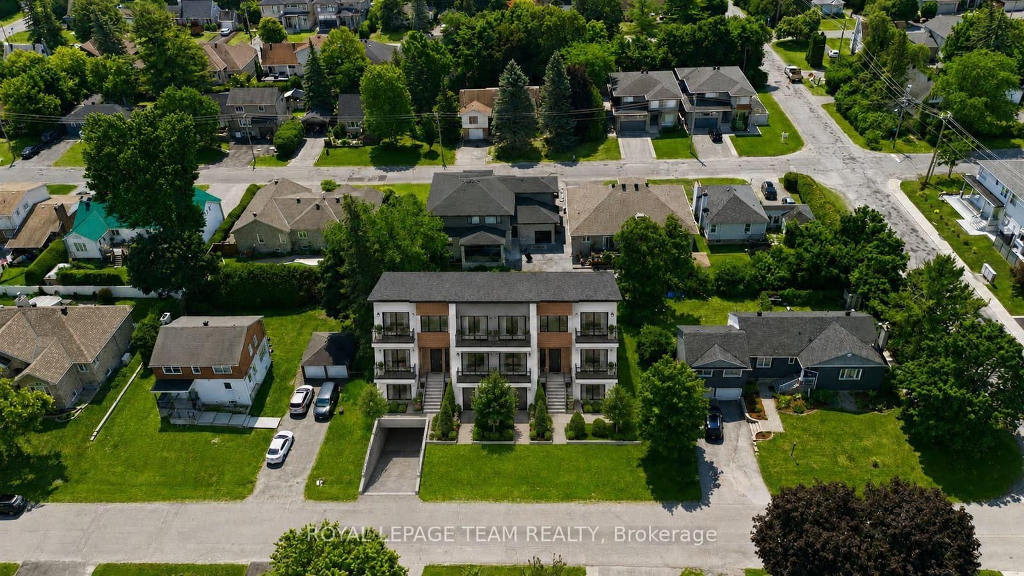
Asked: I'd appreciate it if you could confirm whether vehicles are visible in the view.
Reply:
Yes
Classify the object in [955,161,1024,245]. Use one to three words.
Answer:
house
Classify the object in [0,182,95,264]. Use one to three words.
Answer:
house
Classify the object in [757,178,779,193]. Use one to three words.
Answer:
car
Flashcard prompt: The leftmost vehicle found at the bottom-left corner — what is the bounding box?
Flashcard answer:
[0,490,32,518]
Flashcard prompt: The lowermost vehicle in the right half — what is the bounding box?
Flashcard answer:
[703,408,729,439]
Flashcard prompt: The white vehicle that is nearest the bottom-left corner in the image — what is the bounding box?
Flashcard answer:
[262,429,294,466]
